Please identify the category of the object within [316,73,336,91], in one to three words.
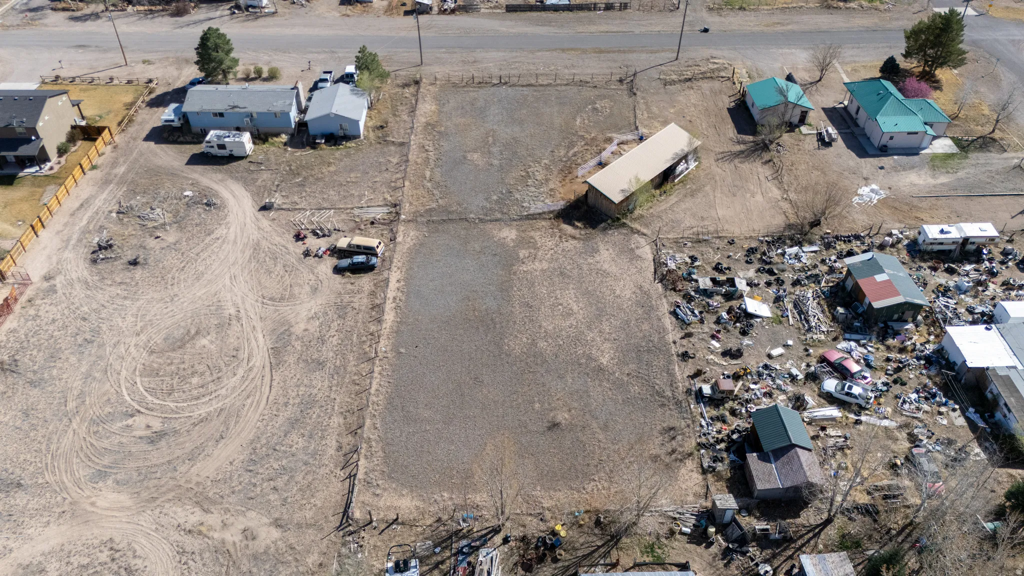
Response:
vehicle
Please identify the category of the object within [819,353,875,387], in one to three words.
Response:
car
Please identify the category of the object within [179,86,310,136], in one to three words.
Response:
house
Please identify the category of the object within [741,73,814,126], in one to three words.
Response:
shed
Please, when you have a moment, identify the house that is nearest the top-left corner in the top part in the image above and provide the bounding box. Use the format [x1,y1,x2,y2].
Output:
[0,91,94,177]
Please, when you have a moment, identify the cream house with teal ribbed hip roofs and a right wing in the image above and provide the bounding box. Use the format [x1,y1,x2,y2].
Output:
[844,79,952,149]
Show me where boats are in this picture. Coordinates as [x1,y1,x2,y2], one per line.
[384,538,419,576]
